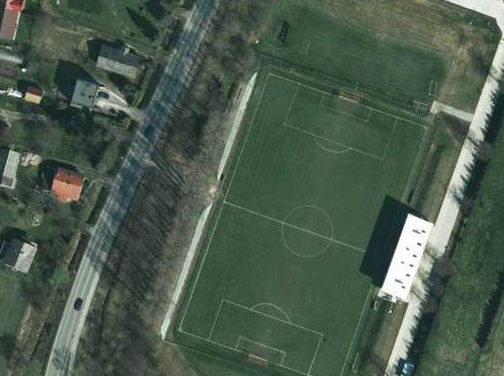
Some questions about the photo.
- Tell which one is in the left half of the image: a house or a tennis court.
house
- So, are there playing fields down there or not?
Yes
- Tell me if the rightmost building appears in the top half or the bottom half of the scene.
bottom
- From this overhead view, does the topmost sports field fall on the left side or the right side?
right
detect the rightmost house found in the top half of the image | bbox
[95,44,142,82]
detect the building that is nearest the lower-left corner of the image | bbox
[0,235,38,275]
